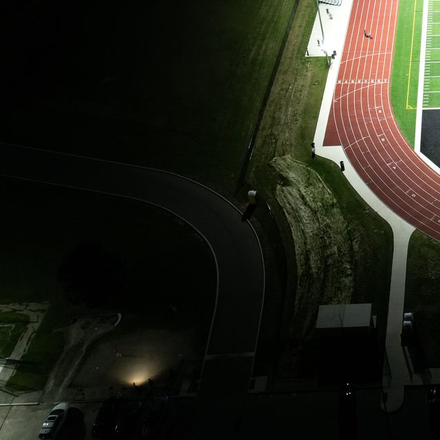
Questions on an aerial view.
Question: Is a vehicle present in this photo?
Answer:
Yes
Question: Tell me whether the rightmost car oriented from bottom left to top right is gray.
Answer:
No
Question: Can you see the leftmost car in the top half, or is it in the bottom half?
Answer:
bottom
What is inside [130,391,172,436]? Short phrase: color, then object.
black car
